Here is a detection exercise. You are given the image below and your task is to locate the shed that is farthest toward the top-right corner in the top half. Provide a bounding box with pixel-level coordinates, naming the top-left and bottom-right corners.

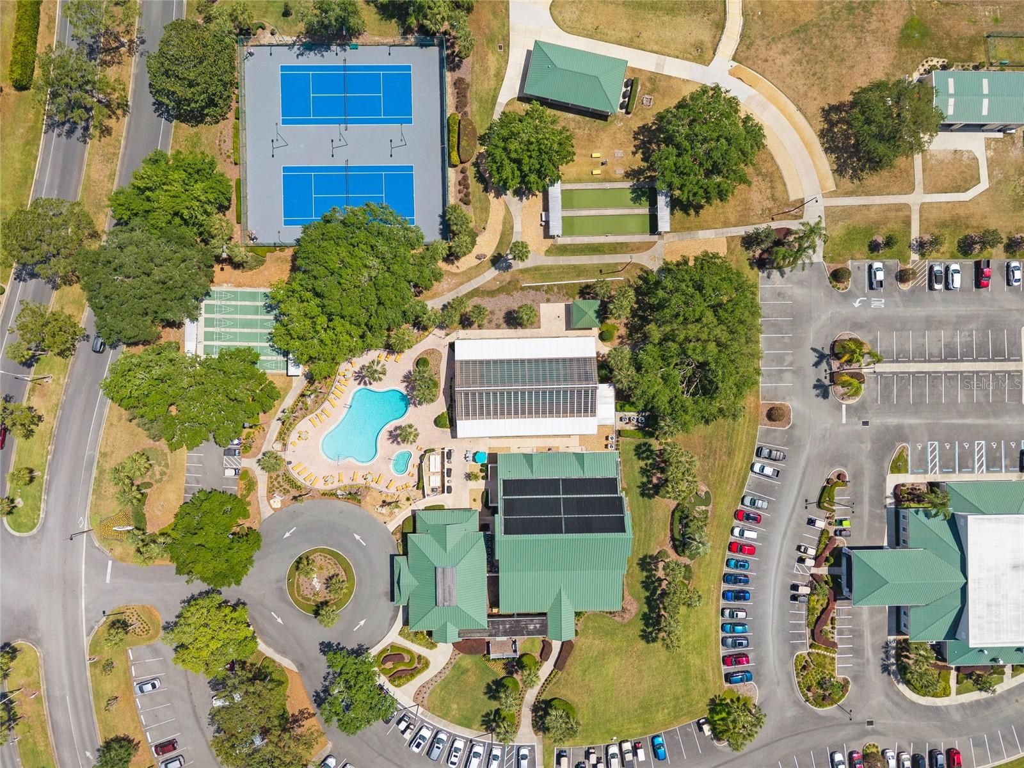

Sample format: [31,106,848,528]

[910,70,1024,131]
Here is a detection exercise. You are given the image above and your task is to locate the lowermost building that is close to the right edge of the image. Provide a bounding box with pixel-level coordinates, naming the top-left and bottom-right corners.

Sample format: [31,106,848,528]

[851,480,1024,665]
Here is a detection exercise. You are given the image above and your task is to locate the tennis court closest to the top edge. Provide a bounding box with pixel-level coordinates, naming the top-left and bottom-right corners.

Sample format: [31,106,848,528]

[279,58,413,128]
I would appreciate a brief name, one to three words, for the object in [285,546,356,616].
roundabout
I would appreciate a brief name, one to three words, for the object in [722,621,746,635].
car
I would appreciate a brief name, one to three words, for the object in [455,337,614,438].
building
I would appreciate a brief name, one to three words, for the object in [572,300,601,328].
gazebo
